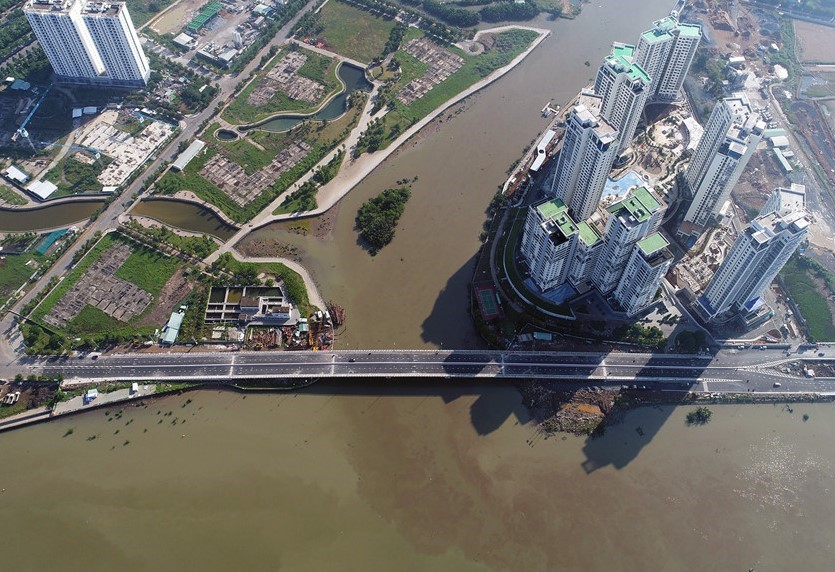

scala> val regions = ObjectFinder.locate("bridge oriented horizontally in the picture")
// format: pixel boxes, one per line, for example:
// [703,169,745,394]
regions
[20,350,705,382]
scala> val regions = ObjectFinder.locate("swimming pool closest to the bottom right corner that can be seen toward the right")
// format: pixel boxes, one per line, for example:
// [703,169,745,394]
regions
[542,282,578,303]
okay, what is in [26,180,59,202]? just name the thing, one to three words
shed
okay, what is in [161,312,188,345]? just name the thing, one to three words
building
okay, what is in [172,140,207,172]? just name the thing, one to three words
shed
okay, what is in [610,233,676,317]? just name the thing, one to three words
building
